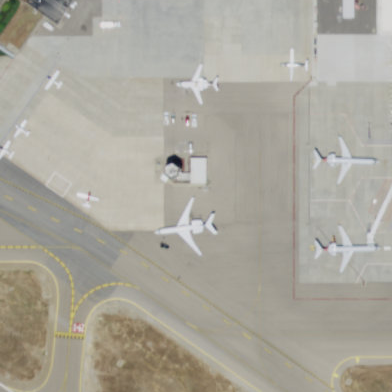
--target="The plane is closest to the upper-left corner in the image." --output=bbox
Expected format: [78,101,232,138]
[46,70,62,90]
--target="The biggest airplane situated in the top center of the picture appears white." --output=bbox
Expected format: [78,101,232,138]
[176,64,219,104]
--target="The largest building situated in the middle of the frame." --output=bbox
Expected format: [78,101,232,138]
[176,156,208,184]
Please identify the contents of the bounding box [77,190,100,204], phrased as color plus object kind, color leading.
white airplane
